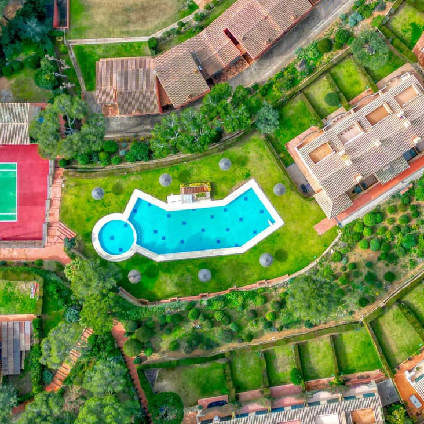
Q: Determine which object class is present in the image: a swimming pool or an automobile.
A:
swimming pool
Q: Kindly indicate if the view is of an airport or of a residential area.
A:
residential area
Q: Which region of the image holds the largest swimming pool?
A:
center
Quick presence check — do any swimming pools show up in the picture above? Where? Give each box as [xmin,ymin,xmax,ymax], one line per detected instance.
[91,213,137,262]
[123,178,284,262]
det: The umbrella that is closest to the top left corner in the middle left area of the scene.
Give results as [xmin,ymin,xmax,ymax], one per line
[91,187,105,200]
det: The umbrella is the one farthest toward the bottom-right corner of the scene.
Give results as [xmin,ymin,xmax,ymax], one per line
[260,253,273,266]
